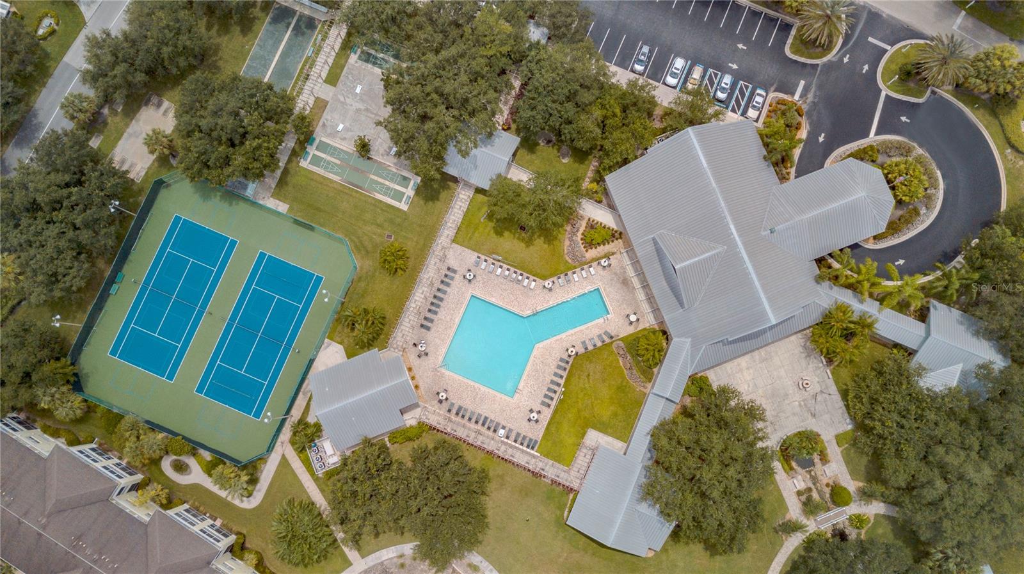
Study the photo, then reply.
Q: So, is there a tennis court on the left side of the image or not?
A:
Yes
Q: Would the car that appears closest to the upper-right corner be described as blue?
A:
No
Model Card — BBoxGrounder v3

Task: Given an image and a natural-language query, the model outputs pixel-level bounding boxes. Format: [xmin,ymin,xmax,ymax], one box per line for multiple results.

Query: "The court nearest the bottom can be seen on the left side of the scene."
[79,177,357,462]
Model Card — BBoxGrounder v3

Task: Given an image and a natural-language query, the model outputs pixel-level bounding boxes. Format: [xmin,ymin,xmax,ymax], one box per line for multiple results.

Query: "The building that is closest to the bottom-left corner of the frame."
[0,413,257,574]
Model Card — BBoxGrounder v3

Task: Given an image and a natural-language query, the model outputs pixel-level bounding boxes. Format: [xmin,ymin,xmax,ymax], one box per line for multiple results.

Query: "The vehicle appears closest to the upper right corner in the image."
[746,89,767,120]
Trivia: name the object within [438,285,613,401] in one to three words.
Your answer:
swimming pool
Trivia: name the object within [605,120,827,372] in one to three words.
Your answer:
building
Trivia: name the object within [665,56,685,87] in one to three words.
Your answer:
car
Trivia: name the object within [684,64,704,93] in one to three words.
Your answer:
car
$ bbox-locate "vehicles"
[714,73,733,102]
[633,45,651,74]
[746,89,767,120]
[665,56,685,87]
[684,64,704,93]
